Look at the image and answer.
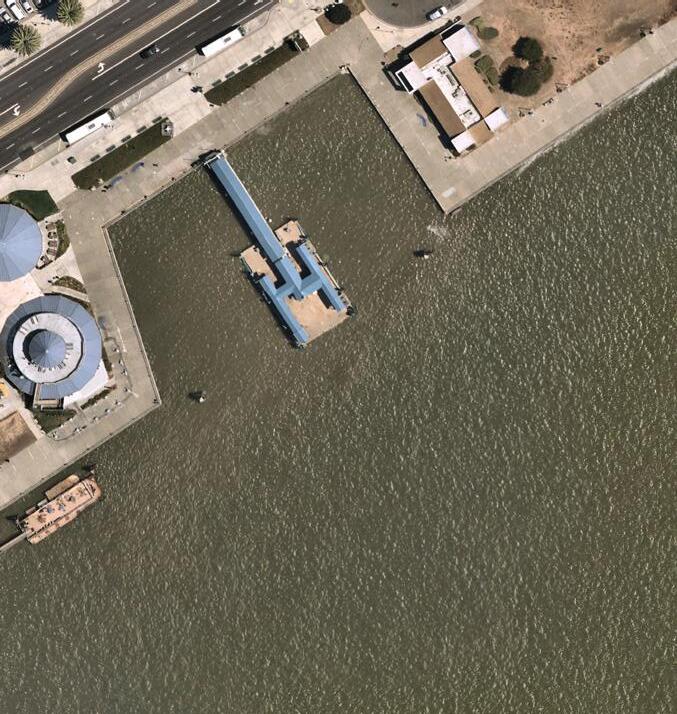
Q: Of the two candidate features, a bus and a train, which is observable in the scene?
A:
bus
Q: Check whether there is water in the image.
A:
Yes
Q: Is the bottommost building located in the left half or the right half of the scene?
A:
left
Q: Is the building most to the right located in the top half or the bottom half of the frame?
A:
top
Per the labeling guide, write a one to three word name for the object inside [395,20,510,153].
building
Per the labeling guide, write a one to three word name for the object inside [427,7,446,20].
vehicle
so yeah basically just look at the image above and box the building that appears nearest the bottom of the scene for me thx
[0,298,109,410]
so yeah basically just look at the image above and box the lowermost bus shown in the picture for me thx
[66,109,116,144]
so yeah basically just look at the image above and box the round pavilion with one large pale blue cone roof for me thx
[0,203,43,281]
